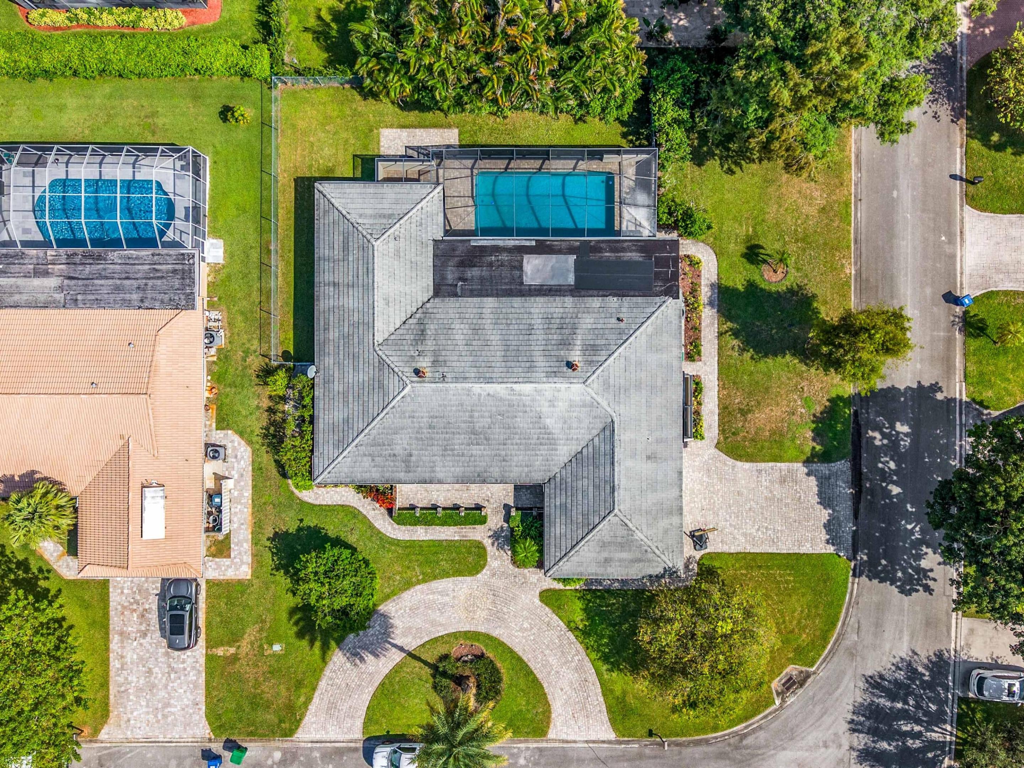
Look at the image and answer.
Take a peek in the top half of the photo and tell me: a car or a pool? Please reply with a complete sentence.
You can see a pool in the top half of the photo.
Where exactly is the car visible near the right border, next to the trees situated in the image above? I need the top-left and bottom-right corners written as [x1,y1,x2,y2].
[969,664,1024,702]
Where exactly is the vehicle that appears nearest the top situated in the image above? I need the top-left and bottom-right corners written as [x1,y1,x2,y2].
[164,579,204,653]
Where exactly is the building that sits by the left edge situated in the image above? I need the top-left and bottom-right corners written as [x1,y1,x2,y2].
[0,248,206,579]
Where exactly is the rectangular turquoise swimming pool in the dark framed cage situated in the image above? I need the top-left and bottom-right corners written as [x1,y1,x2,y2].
[471,167,618,236]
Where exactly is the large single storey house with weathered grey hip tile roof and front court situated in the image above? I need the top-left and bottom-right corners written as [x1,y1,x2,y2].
[312,180,685,580]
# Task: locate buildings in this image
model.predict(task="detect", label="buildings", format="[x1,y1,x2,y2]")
[312,180,685,580]
[0,248,206,579]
